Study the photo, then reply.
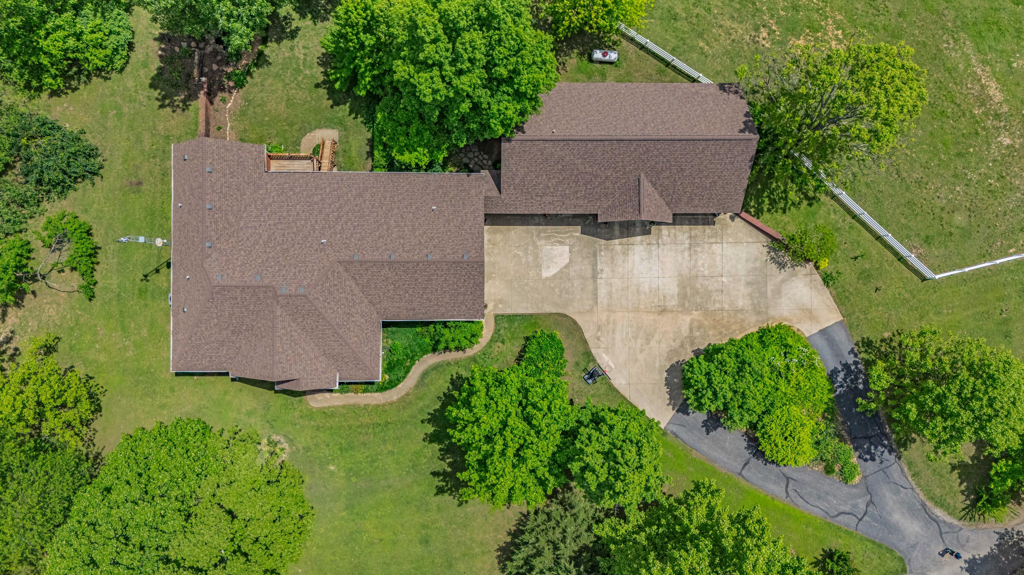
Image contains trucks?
No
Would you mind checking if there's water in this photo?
No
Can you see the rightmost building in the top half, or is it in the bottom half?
top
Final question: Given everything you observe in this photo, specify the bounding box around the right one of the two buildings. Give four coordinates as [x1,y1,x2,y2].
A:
[481,82,760,222]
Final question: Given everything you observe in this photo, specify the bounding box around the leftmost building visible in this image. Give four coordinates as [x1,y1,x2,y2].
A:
[169,137,485,392]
